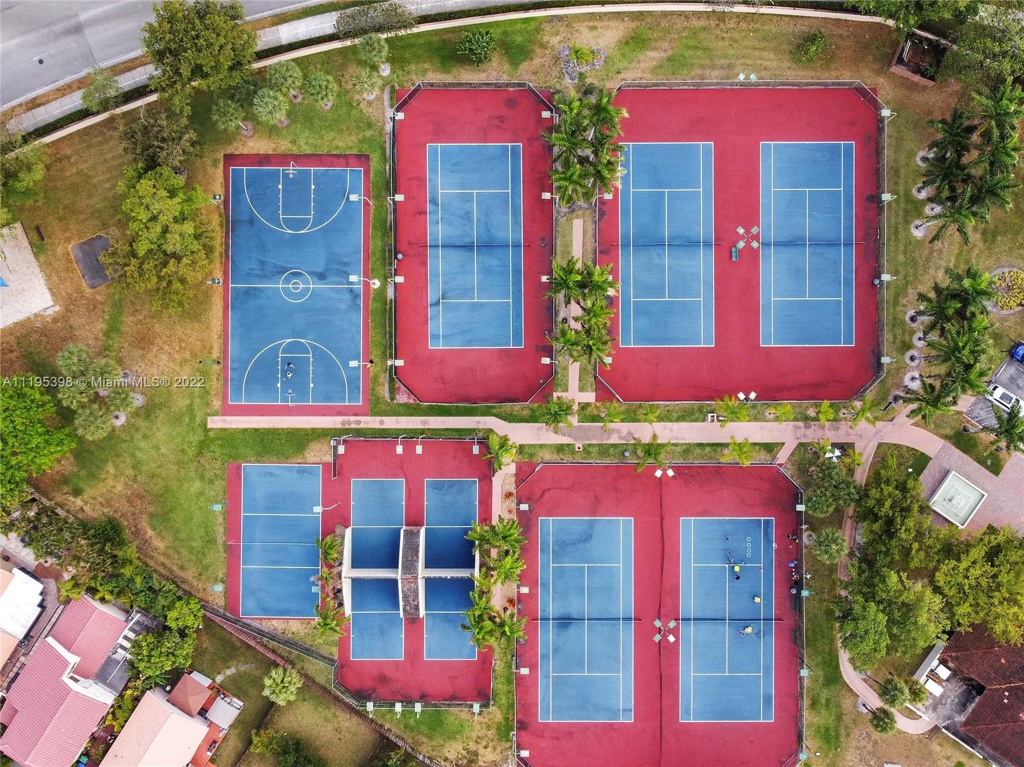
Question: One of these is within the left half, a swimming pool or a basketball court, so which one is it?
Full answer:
There is a basketball court within the left half.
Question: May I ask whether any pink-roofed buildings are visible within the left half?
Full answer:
Yes, a pink-roofed building appears within the left half.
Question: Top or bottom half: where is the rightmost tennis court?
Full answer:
You can find the rightmost tennis court in the top half.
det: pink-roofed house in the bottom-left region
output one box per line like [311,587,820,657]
[0,593,136,767]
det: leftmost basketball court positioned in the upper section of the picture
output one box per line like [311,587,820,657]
[220,154,370,416]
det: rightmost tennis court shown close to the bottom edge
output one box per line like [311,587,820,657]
[661,461,799,767]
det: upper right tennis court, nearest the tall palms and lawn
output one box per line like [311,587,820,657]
[737,88,877,401]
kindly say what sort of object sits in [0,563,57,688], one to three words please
house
